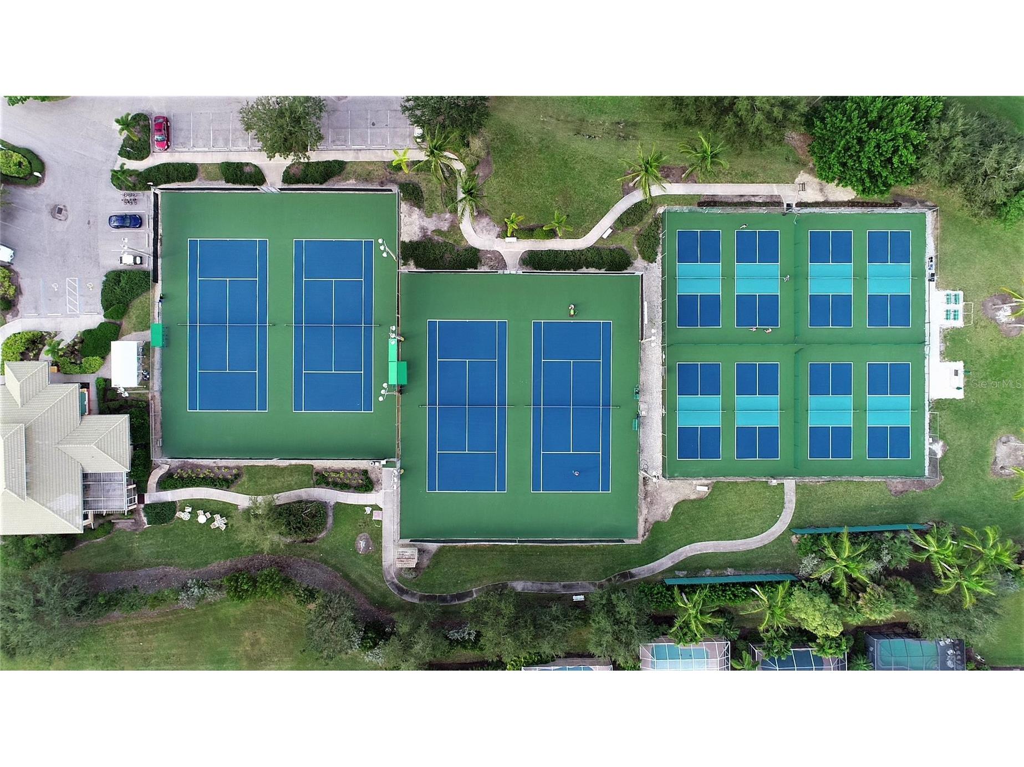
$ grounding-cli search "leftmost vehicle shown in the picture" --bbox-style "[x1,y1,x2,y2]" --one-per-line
[0,243,24,264]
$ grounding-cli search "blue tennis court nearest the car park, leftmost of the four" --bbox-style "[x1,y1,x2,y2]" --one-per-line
[161,192,280,459]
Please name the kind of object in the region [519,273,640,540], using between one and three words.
tennis court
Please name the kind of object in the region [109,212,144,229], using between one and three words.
car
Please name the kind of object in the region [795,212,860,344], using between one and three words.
sports court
